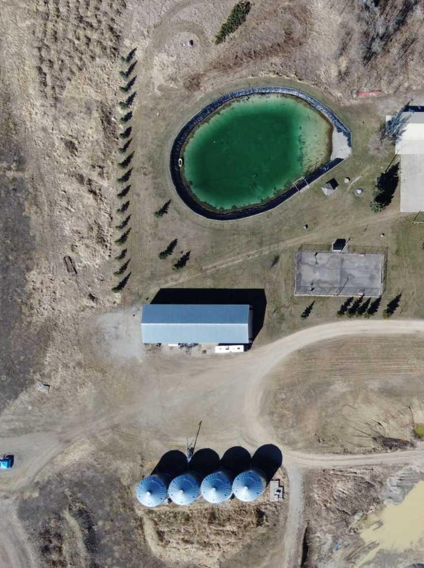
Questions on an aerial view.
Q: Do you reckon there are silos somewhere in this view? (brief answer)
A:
Yes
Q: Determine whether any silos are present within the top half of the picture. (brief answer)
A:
No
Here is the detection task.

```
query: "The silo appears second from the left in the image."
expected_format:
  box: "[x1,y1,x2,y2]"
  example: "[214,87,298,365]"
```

[168,468,205,505]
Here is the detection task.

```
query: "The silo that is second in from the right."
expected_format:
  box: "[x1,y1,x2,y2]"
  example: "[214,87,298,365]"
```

[201,465,237,502]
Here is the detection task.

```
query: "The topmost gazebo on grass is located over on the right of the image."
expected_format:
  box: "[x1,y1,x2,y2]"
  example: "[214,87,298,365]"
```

[322,179,338,196]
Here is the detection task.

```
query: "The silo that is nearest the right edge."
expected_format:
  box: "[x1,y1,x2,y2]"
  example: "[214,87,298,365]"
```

[233,464,270,501]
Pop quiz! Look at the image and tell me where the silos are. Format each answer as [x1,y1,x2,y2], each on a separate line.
[201,465,237,502]
[136,470,173,507]
[168,468,205,505]
[233,464,270,501]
